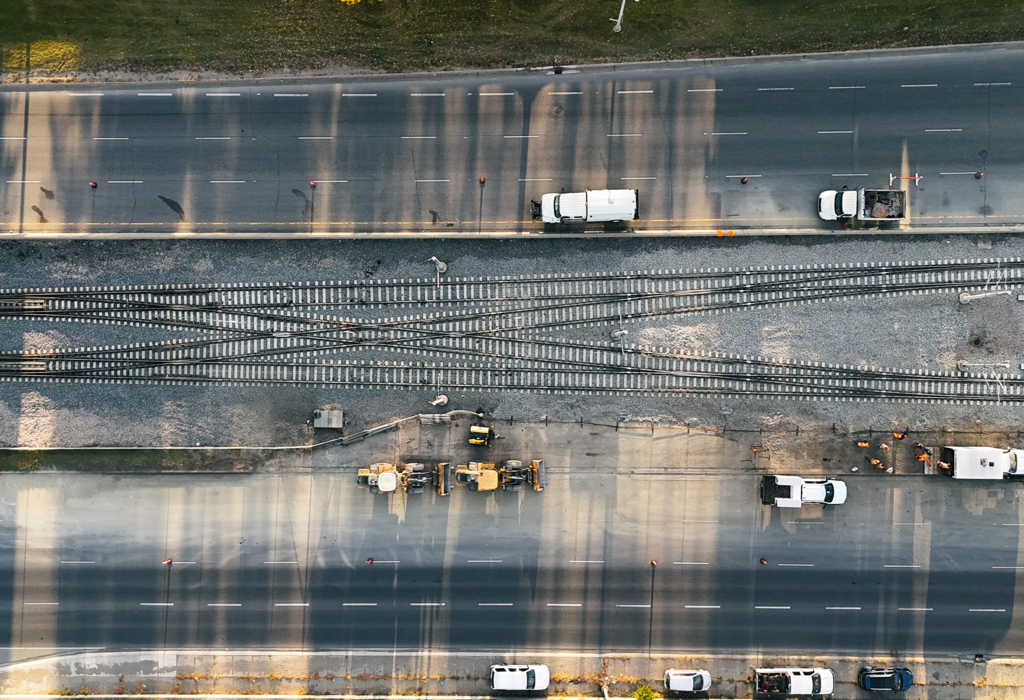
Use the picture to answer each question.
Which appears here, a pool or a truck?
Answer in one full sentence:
Of the two, only a truck appears.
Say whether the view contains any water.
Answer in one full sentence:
No, no water is visible.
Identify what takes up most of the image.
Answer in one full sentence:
The scene is dominated by paved ground.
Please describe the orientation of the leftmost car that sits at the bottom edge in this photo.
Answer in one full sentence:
From this overhead view, the leftmost car that sits at the bottom edge appears to run from left to right.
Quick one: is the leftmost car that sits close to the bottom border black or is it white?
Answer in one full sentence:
The leftmost car that sits close to the bottom border is white.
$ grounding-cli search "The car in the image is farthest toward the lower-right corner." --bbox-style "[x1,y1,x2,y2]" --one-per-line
[856,664,912,693]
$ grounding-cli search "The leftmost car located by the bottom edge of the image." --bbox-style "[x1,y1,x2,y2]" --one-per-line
[490,660,550,691]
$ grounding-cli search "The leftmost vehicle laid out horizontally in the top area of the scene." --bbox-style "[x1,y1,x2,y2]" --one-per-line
[529,189,641,221]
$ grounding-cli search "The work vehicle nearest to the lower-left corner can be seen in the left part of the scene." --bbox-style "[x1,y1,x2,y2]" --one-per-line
[356,459,454,494]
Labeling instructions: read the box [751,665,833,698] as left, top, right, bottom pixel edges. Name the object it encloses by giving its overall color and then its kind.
white truck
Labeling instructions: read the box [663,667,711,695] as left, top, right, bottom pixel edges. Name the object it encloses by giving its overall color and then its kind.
white car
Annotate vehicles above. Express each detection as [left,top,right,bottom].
[815,189,906,220]
[490,660,550,691]
[751,665,833,698]
[356,459,454,494]
[663,667,711,695]
[759,476,847,506]
[922,445,1024,479]
[856,664,912,693]
[454,458,551,494]
[529,189,641,221]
